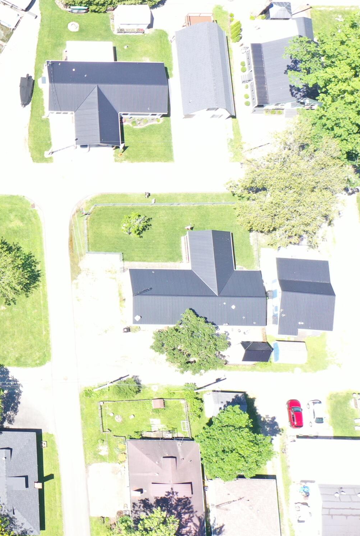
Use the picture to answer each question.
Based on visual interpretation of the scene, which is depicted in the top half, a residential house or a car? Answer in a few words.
residential house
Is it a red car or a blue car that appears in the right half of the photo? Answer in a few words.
red car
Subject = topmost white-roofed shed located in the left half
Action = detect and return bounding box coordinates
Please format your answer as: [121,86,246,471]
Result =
[110,4,150,31]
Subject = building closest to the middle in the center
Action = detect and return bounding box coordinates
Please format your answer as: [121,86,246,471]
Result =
[125,230,267,326]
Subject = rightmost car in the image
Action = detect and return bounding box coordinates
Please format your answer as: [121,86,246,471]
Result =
[305,397,328,430]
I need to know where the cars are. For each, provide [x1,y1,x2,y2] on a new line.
[305,397,328,430]
[285,398,304,430]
